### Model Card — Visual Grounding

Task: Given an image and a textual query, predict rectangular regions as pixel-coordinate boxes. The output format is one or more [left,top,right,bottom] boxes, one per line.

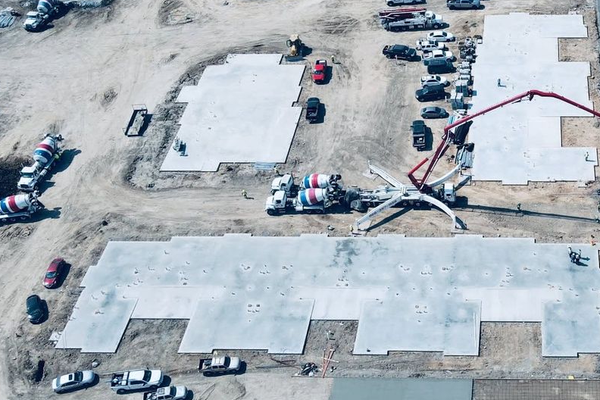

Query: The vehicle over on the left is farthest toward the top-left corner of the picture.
[19,0,59,31]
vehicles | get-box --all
[19,0,59,31]
[380,9,441,31]
[0,193,47,226]
[270,174,346,202]
[427,33,454,44]
[356,89,600,228]
[422,59,454,76]
[413,86,446,104]
[107,367,166,396]
[305,99,321,122]
[419,40,447,53]
[311,60,327,84]
[41,260,67,289]
[447,0,480,11]
[284,34,303,62]
[192,353,246,375]
[419,109,450,122]
[411,124,427,149]
[17,133,64,192]
[381,44,418,60]
[25,292,47,327]
[140,385,193,400]
[421,51,454,64]
[385,0,418,6]
[420,78,450,90]
[51,370,97,395]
